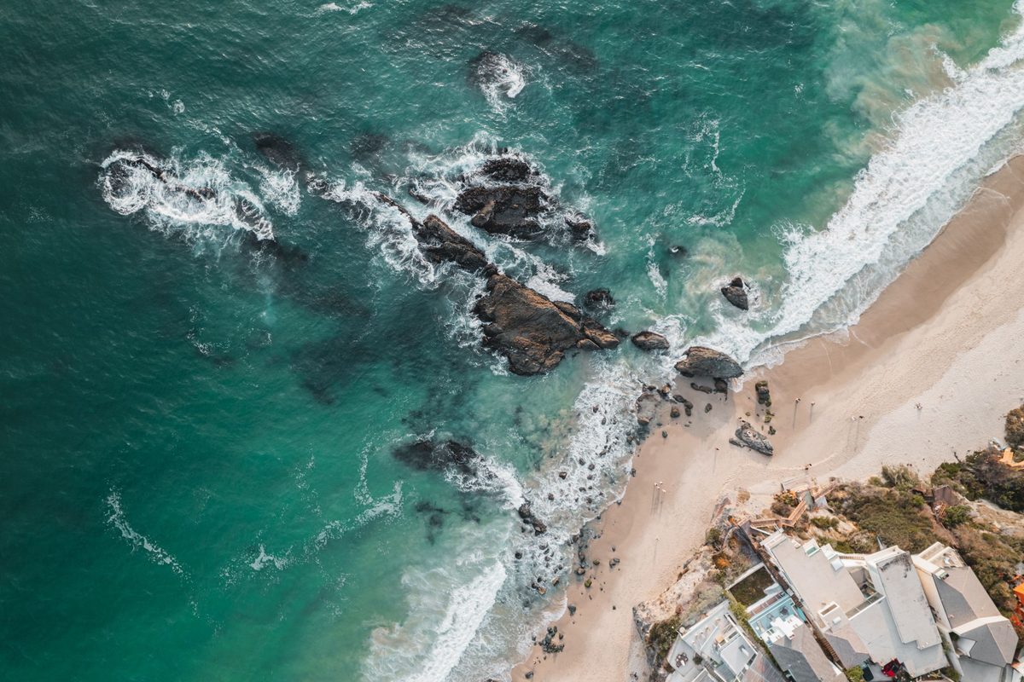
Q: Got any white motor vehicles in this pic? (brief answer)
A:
No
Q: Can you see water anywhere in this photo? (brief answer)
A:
Yes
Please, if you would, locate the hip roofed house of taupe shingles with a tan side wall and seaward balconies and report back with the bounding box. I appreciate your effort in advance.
[906,542,1018,667]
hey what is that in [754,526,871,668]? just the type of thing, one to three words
house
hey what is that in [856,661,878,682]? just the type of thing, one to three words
car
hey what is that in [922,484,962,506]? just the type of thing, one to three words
shed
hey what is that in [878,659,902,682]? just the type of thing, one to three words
car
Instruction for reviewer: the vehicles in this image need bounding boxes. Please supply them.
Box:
[856,661,878,682]
[878,659,902,682]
